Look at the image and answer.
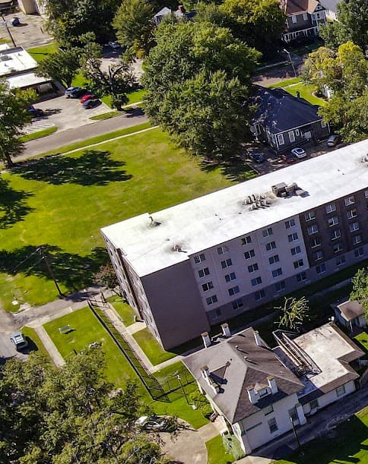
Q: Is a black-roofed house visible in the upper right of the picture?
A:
Yes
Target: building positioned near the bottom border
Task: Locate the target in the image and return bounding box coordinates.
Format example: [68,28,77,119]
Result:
[182,319,368,452]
